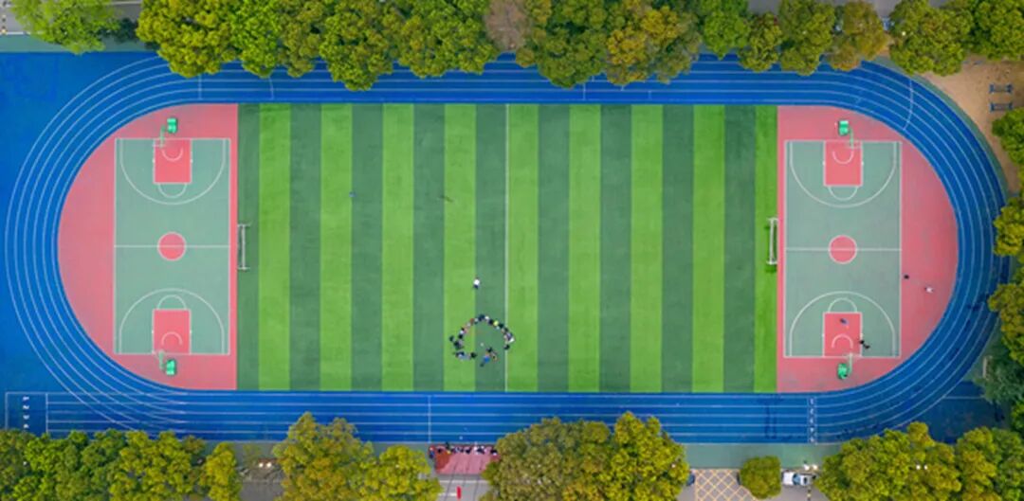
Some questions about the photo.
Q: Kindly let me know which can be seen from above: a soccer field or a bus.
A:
soccer field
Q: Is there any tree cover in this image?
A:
Yes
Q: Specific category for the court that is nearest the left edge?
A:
basketball court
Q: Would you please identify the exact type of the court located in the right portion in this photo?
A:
basketball court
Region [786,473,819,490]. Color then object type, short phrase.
white car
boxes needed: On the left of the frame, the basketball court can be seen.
[58,103,238,390]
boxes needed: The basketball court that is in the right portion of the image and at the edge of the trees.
[777,106,958,392]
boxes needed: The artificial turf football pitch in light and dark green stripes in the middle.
[236,103,778,392]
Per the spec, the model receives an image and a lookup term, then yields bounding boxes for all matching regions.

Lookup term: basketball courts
[777,106,958,392]
[58,103,238,390]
